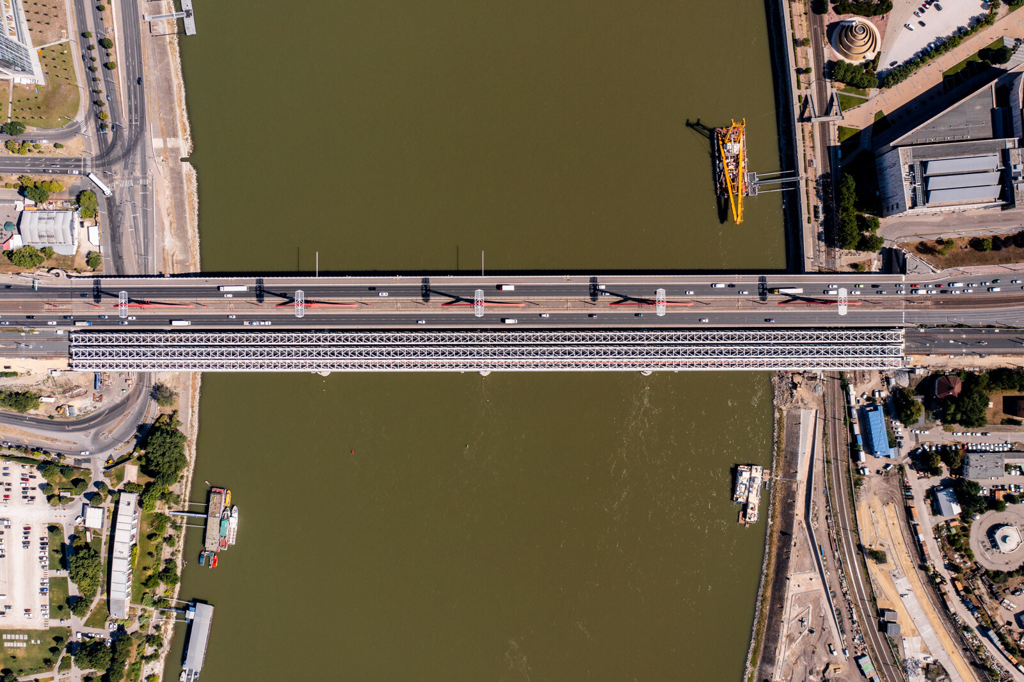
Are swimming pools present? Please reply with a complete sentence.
No, the photo shows no swimming pool.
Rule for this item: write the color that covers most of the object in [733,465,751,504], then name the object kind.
white ship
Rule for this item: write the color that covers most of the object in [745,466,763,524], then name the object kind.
white ship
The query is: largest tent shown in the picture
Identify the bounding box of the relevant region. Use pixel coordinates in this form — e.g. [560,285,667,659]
[19,210,80,256]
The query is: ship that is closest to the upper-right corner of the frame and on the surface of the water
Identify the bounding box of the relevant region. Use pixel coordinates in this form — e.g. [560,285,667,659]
[714,117,748,226]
